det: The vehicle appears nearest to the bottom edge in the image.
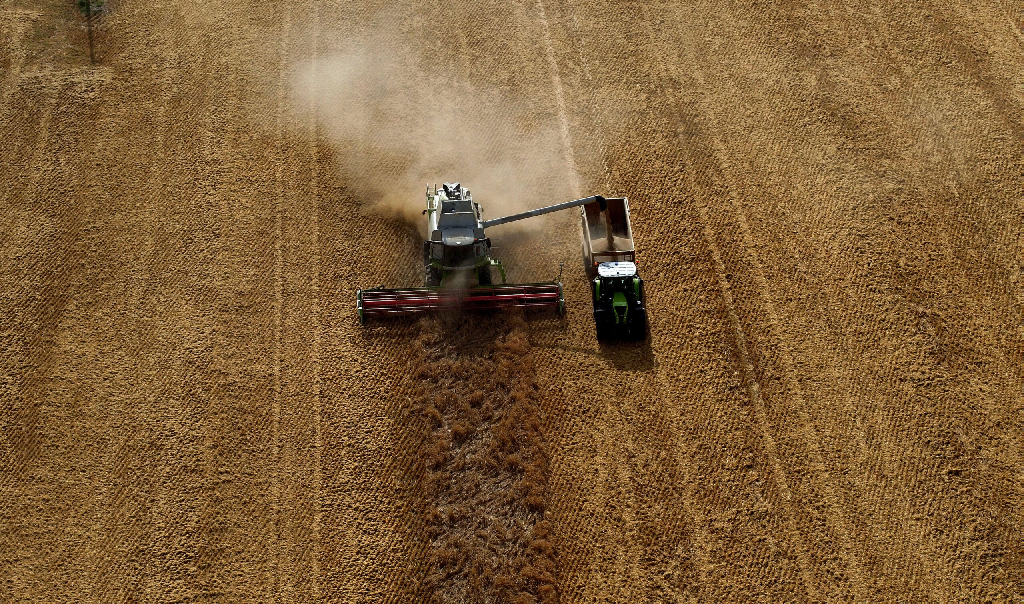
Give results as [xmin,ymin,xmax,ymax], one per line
[588,258,646,340]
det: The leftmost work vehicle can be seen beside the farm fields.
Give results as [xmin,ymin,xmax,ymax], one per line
[355,181,606,327]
